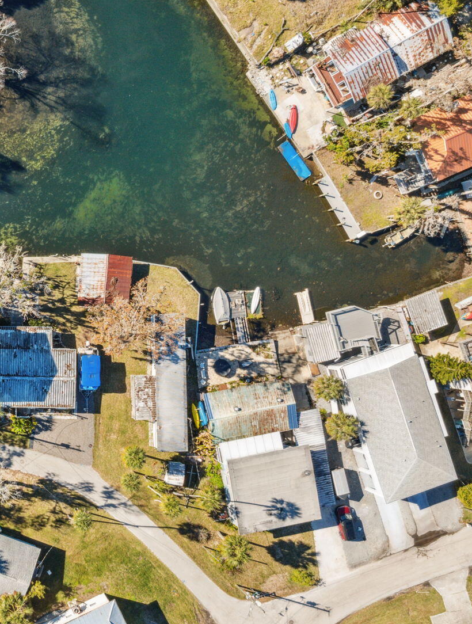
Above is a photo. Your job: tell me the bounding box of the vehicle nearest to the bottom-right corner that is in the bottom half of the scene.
[338,505,363,543]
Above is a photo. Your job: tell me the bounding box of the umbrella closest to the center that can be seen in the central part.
[212,359,229,376]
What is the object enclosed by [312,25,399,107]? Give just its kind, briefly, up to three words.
house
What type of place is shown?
residential area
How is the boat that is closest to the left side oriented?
up and down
